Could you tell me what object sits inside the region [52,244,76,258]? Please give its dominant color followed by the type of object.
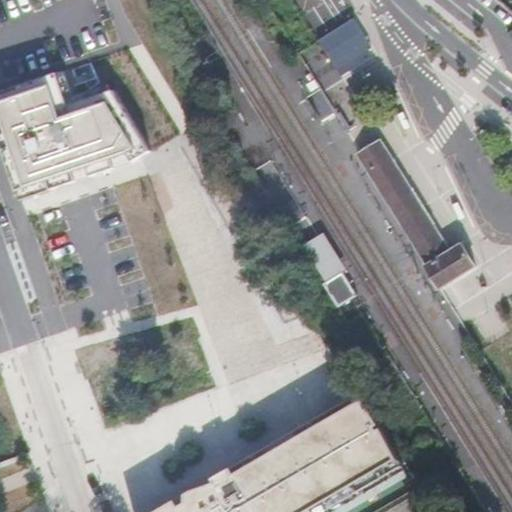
white car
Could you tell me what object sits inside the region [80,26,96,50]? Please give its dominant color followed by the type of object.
white car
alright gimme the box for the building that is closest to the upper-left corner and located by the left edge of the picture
[0,72,152,200]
